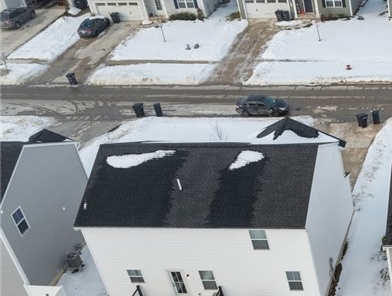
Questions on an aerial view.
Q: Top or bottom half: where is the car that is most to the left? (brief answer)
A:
top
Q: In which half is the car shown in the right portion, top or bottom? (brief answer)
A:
top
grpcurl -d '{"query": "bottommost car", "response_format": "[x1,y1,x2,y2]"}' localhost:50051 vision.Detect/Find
[234,91,296,115]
